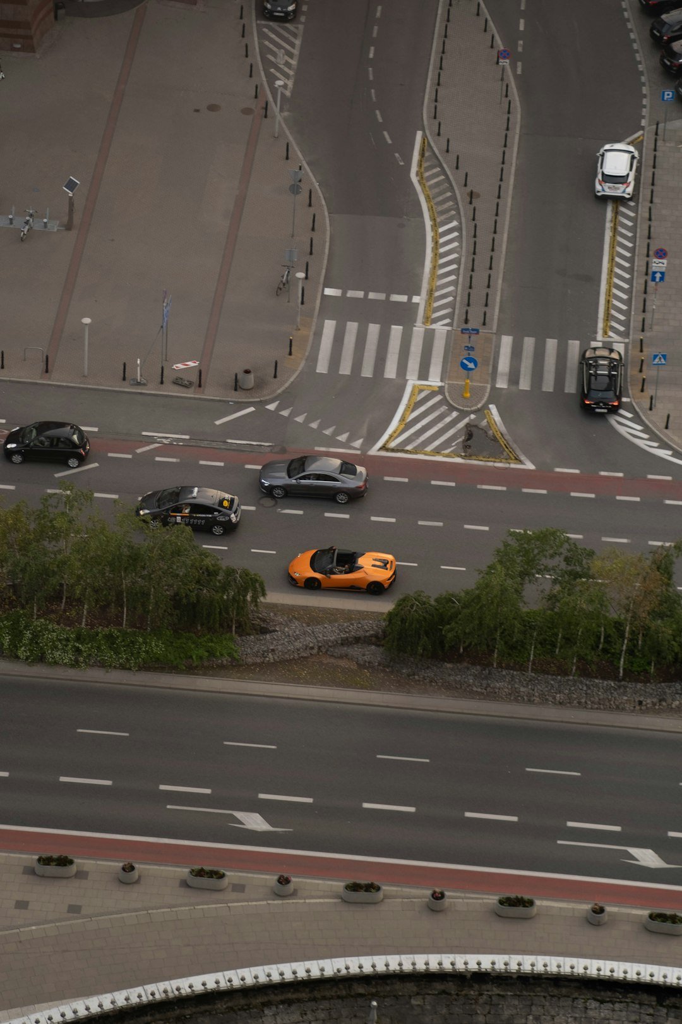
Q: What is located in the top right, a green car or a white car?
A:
white car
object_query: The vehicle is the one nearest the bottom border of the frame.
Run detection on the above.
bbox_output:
[291,543,399,595]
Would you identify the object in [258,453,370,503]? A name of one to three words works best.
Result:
car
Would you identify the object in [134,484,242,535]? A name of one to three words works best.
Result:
car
